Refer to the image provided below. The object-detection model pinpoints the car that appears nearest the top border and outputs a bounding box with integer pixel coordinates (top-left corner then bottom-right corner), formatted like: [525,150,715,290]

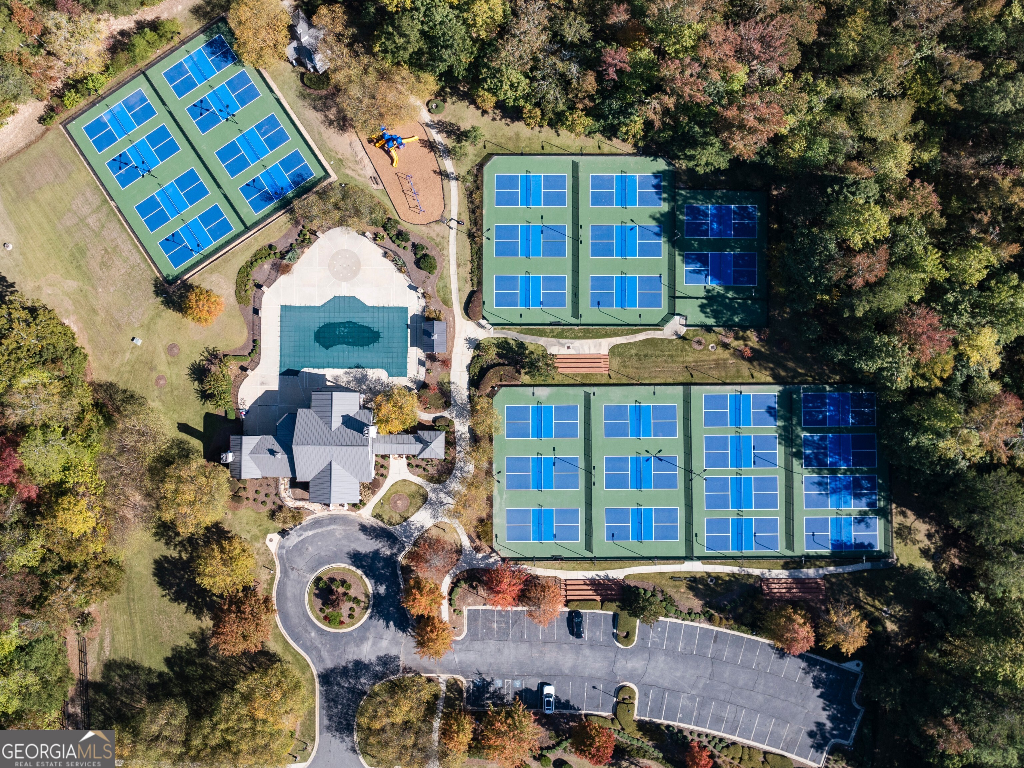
[573,612,585,640]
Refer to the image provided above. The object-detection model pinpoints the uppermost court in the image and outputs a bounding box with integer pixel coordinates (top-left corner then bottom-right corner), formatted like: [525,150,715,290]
[161,33,238,100]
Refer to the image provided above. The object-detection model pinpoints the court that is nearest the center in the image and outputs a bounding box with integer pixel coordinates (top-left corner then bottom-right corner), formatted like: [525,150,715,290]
[505,403,579,439]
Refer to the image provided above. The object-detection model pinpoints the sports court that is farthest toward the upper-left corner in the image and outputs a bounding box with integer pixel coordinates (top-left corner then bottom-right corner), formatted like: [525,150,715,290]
[81,87,159,154]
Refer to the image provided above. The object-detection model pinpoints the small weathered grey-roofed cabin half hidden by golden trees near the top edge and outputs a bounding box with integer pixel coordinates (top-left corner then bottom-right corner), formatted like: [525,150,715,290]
[287,9,334,74]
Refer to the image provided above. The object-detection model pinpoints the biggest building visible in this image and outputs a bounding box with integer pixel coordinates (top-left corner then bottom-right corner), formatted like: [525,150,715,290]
[222,392,445,510]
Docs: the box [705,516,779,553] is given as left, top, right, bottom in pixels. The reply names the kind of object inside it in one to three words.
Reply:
sports court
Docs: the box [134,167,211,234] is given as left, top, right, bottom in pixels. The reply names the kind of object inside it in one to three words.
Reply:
sports court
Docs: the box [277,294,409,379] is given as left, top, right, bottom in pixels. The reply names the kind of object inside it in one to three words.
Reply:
swimming pool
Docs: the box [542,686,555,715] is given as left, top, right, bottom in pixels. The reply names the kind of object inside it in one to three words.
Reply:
vehicle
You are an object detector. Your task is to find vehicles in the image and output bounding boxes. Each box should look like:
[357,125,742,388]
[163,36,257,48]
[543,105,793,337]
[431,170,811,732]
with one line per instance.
[542,686,555,715]
[573,612,585,640]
